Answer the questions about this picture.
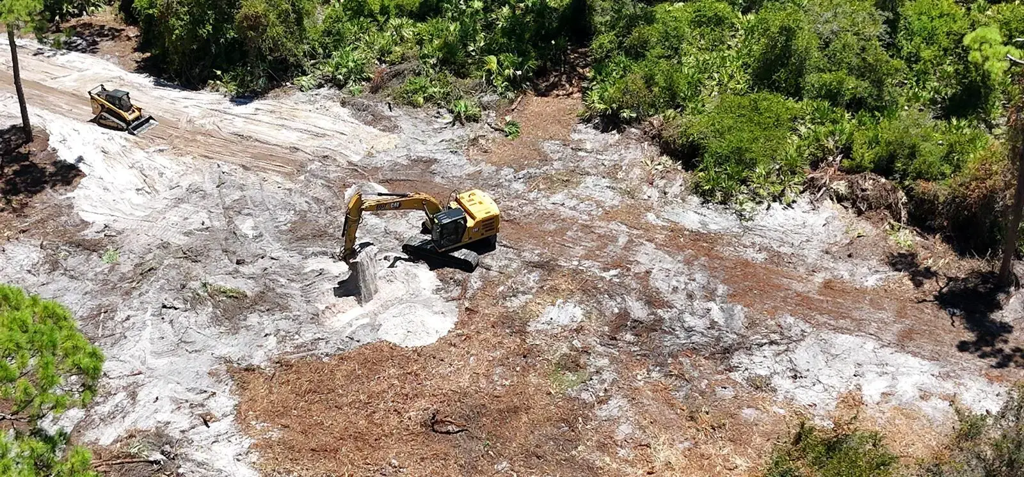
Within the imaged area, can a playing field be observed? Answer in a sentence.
No, no playing field is visible in the view.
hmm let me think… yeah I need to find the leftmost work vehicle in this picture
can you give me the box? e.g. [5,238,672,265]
[87,79,156,135]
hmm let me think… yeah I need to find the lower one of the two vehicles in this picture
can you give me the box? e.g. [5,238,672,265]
[342,188,503,276]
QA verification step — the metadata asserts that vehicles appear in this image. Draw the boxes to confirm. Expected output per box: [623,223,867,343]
[342,188,503,276]
[87,79,156,135]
